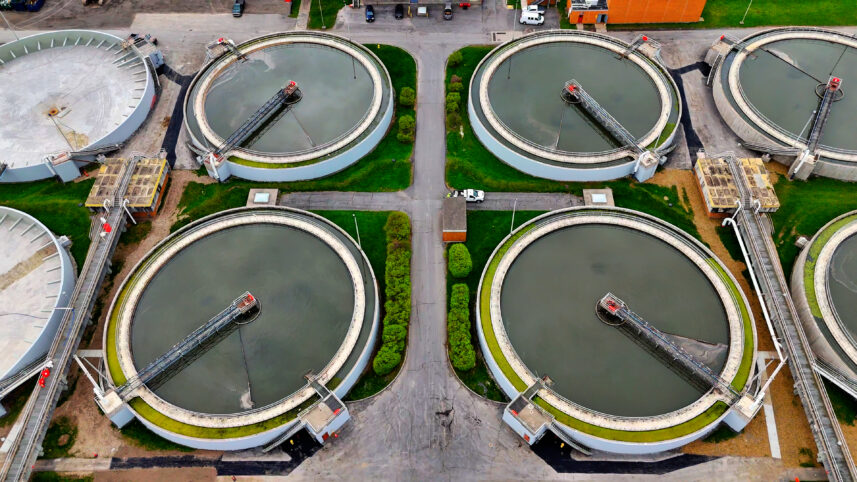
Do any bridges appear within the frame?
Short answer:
Yes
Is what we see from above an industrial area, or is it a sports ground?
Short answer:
industrial area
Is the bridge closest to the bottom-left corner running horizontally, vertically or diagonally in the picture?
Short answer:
diagonally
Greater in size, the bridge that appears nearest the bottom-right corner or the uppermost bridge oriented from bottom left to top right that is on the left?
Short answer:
the bridge that appears nearest the bottom-right corner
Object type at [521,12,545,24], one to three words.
vehicle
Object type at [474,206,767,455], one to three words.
storage tank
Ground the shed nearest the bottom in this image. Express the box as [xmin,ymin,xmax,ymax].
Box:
[442,198,467,239]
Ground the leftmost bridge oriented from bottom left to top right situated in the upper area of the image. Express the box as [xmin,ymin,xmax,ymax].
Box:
[209,81,298,159]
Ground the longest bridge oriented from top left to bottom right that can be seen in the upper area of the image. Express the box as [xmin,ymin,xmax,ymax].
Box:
[564,80,654,158]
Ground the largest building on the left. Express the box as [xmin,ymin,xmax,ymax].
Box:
[84,144,175,220]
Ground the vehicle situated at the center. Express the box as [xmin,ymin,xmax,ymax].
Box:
[454,189,485,202]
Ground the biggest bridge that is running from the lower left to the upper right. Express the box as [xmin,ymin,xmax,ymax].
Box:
[110,291,255,399]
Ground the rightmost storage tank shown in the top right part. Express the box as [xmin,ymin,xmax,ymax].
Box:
[697,28,857,186]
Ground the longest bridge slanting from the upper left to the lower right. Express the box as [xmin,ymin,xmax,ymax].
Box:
[600,293,747,402]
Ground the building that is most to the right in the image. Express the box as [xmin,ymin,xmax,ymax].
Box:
[689,143,781,221]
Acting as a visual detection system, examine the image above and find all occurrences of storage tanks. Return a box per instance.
[182,32,395,184]
[697,28,857,186]
[781,208,857,427]
[91,206,382,453]
[467,30,682,184]
[0,207,78,418]
[0,31,173,186]
[474,206,767,455]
